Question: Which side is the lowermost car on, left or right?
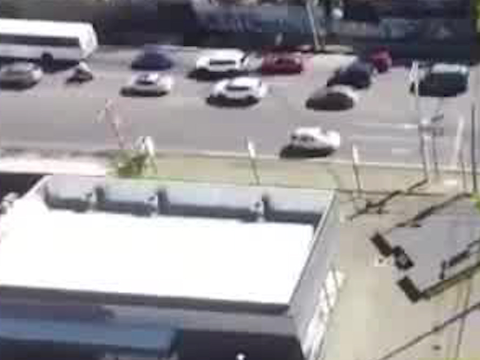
right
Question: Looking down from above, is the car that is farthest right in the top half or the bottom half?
top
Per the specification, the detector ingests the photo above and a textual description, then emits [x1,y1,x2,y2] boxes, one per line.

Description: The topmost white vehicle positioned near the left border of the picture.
[0,18,98,66]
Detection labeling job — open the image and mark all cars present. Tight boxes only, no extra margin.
[303,84,362,111]
[124,47,183,71]
[0,59,51,89]
[322,56,377,85]
[281,126,344,156]
[413,64,473,94]
[256,51,311,76]
[191,47,252,76]
[117,71,178,97]
[209,78,269,104]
